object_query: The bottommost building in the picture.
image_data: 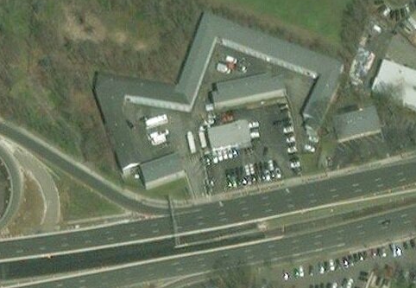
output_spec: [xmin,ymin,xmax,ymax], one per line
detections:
[140,152,185,187]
